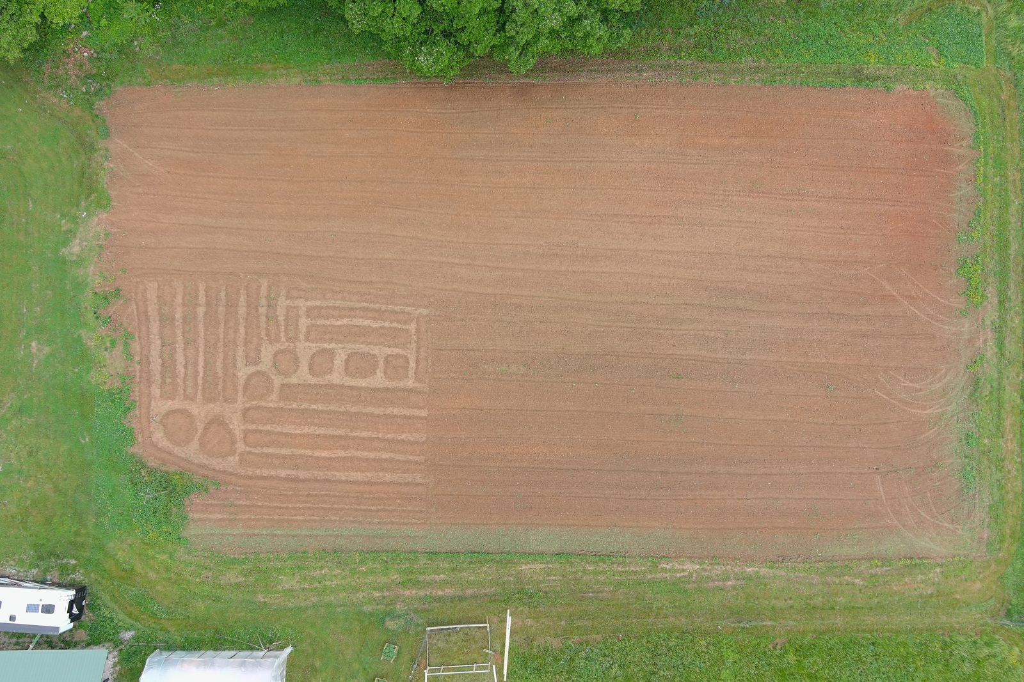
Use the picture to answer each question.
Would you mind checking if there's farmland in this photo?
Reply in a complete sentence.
Yes, farmland can be seen from above here.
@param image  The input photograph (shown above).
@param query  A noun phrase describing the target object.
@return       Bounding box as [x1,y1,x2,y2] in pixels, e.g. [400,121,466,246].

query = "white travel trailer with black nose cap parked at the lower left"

[0,577,90,636]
